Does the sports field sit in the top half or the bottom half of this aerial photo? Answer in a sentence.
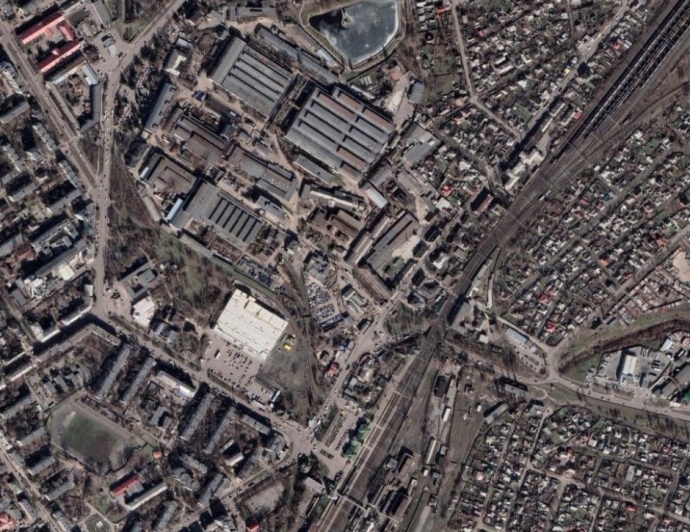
The bottom half of the photo is where the sports field is.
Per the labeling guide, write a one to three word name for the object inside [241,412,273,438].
building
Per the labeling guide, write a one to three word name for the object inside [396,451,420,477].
shed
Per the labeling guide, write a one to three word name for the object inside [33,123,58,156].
building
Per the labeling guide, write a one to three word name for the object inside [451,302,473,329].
shed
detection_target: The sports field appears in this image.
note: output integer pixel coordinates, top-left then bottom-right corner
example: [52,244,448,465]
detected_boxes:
[58,411,119,461]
